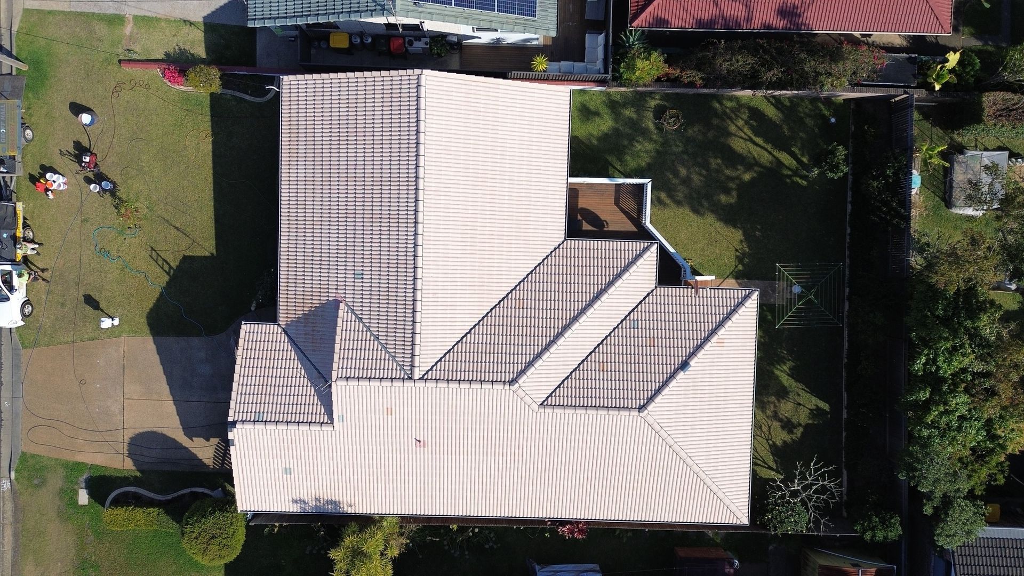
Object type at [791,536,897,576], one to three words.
shed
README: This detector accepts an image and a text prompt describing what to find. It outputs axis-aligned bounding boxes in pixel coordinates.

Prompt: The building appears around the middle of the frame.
[227,67,761,527]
